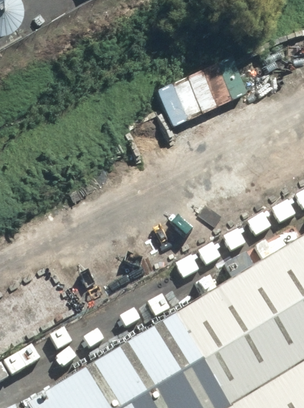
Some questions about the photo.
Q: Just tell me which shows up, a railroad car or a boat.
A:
boat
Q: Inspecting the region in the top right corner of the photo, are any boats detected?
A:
No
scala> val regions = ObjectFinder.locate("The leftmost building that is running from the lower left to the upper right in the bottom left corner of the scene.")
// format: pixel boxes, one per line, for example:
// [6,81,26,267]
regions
[2,344,40,376]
